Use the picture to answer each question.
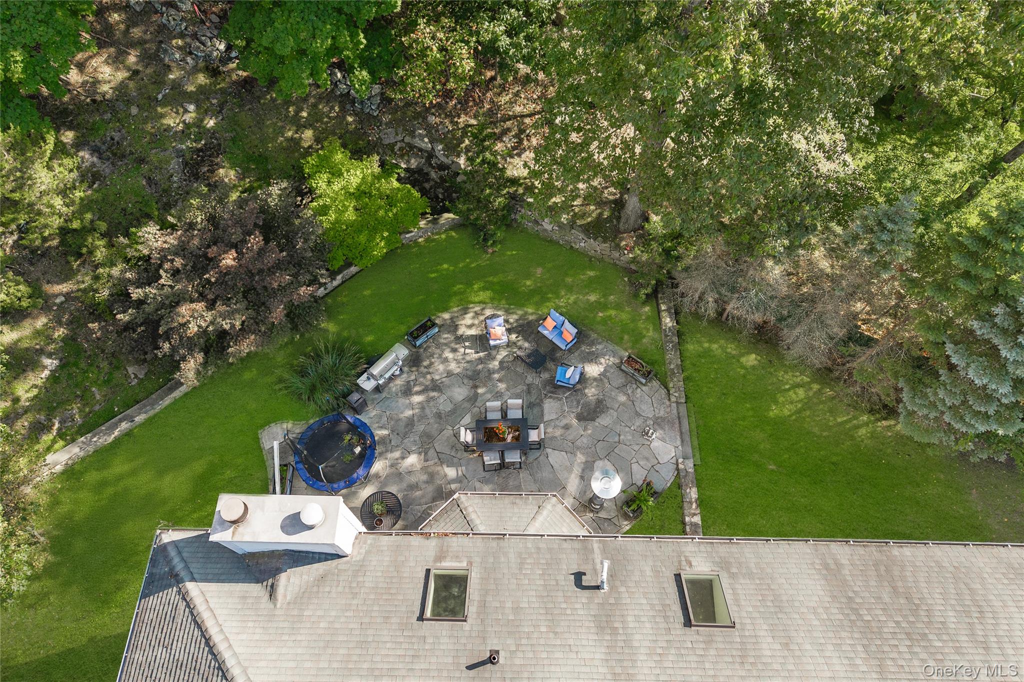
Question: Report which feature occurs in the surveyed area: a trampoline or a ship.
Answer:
trampoline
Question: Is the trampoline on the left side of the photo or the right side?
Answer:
left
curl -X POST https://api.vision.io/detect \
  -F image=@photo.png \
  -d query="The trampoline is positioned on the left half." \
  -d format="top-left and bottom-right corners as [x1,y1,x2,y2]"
[284,397,381,497]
